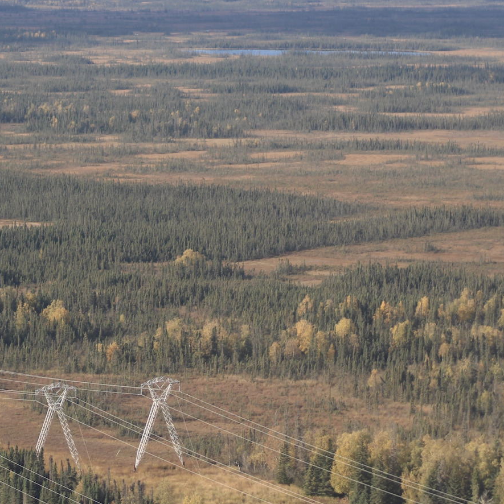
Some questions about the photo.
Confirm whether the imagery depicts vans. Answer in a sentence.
No, the scene contains no van.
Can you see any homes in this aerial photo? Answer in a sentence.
No, no home can be seen from above.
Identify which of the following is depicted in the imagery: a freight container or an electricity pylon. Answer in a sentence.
The one in the frame is an electricity pylon.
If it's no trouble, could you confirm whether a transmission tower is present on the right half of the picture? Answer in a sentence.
No, I can find no transmission tower on the right half of the picture.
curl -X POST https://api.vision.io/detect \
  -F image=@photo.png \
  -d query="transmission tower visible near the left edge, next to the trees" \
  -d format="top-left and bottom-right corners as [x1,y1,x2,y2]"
[24,380,93,473]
